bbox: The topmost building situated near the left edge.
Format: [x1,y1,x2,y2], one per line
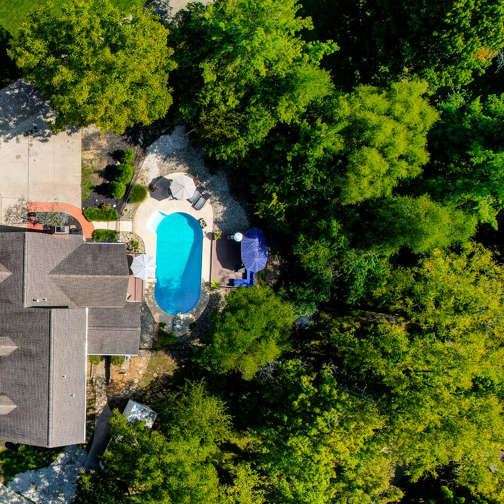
[0,224,140,448]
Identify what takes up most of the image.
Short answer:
trees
